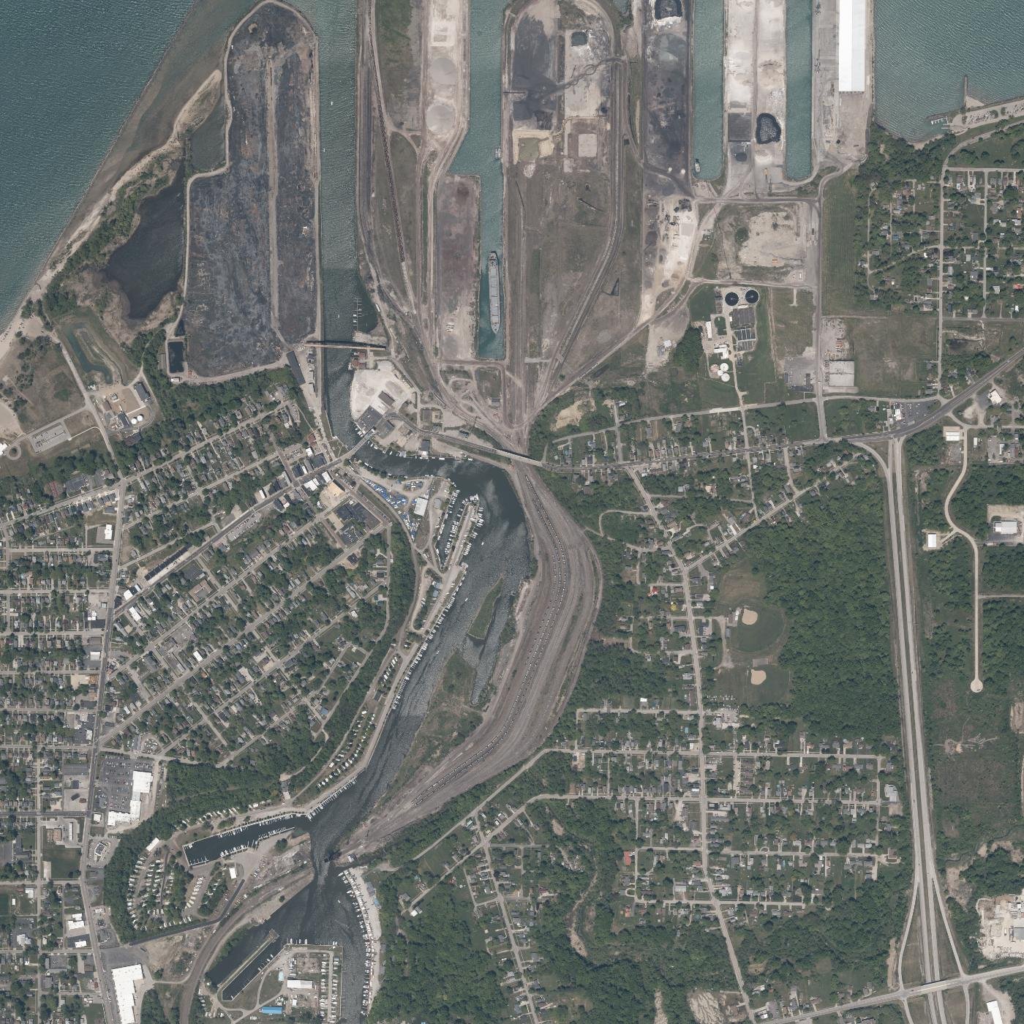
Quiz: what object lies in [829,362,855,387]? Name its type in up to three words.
building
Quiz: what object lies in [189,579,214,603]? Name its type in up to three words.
building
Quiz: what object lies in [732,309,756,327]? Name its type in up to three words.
house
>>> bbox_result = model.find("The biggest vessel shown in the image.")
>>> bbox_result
[488,250,501,334]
